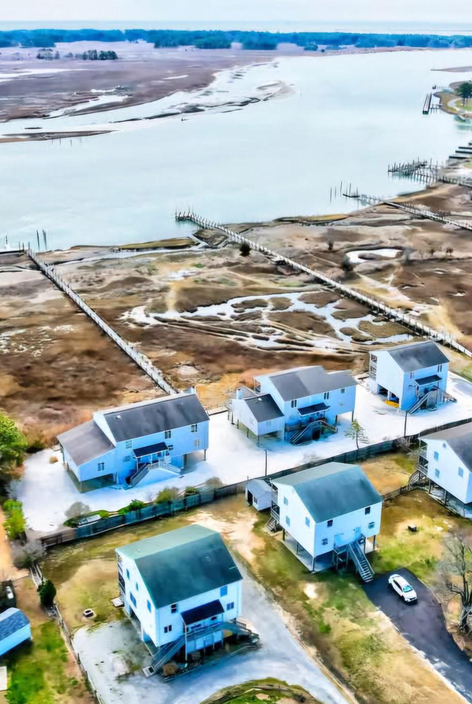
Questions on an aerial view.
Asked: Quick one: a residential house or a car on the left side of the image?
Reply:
residential house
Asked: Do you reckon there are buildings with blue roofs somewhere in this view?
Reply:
Yes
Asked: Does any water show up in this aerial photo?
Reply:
Yes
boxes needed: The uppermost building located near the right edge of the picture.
[368,340,453,412]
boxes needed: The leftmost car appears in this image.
[385,568,420,600]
